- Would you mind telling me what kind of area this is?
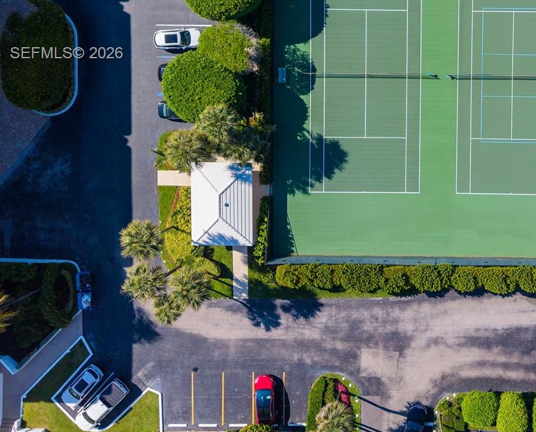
sports ground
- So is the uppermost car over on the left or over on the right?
left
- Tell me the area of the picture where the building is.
center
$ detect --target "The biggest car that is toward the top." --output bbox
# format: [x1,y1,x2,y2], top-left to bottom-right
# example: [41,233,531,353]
[154,28,199,50]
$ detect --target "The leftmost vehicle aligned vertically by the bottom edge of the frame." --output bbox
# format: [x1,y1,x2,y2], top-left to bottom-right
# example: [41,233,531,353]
[253,375,276,425]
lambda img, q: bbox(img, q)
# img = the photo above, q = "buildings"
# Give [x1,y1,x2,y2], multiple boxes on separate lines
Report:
[190,160,258,247]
